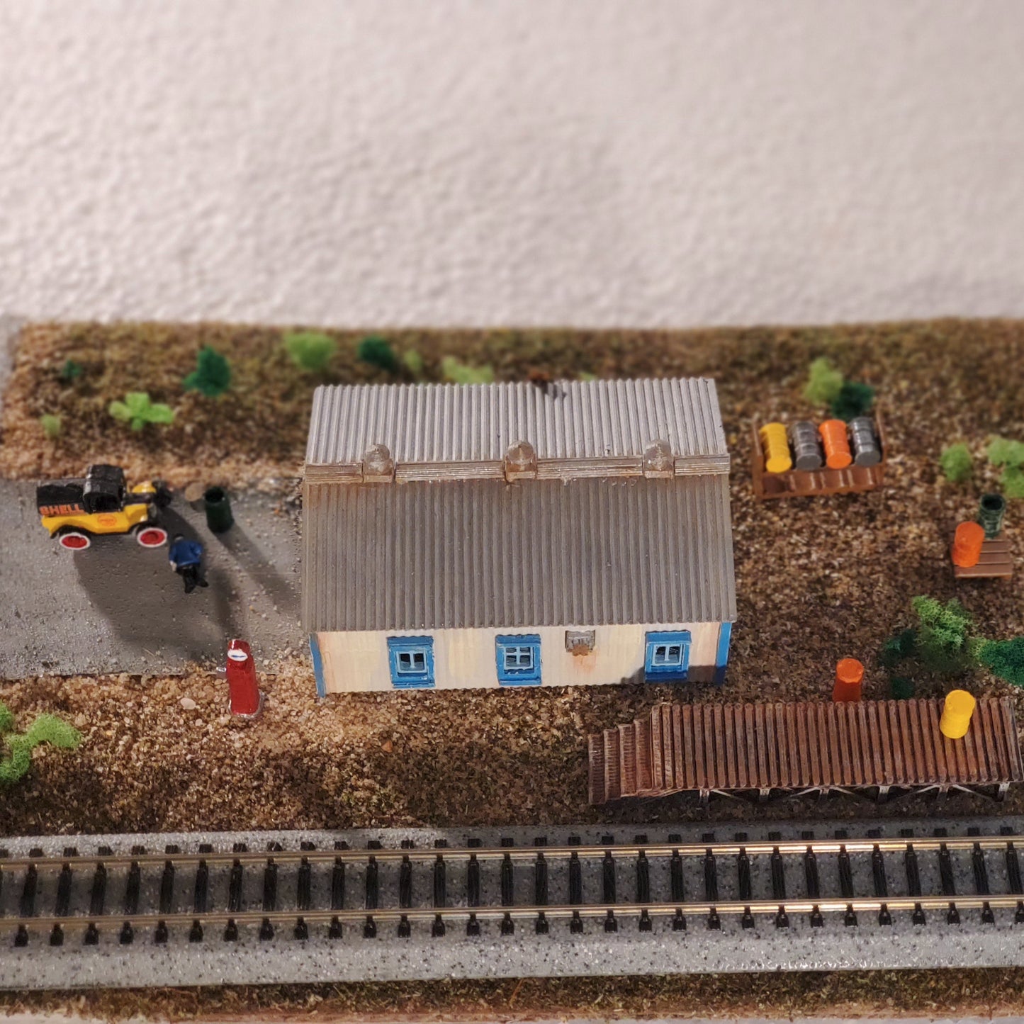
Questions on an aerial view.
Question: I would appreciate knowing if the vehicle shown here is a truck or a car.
truck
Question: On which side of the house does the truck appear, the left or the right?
to the left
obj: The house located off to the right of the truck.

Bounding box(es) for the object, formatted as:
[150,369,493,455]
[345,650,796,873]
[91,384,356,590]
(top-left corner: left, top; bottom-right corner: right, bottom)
[298,363,738,701]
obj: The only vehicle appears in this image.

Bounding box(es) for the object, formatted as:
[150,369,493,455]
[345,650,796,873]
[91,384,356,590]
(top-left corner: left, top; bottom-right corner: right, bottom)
[37,465,172,550]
